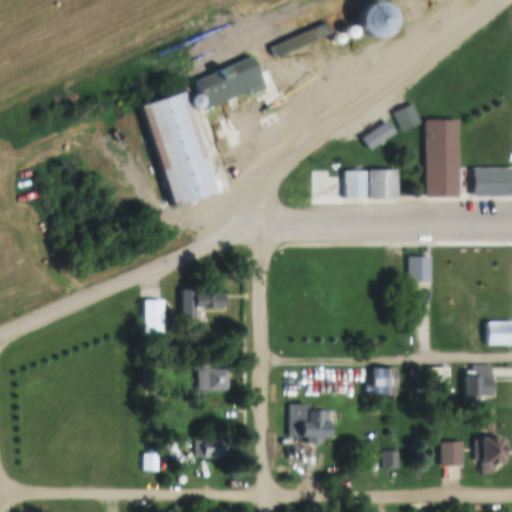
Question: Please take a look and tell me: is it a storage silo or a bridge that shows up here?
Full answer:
The one in the frame is a storage silo.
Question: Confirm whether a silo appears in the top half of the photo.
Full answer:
Yes, a silo shows up in the top half of the photo.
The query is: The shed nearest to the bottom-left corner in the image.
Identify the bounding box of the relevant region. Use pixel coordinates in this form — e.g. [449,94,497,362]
[142,451,160,472]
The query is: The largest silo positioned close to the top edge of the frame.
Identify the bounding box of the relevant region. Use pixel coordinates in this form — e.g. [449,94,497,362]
[360,2,403,40]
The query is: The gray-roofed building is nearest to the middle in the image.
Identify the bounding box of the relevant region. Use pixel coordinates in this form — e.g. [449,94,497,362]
[182,289,230,321]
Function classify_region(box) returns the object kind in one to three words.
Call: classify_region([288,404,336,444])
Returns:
house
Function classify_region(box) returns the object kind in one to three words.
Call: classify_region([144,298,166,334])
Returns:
building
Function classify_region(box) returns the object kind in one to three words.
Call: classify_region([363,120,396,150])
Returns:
shed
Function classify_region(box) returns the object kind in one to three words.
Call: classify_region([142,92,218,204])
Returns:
barn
